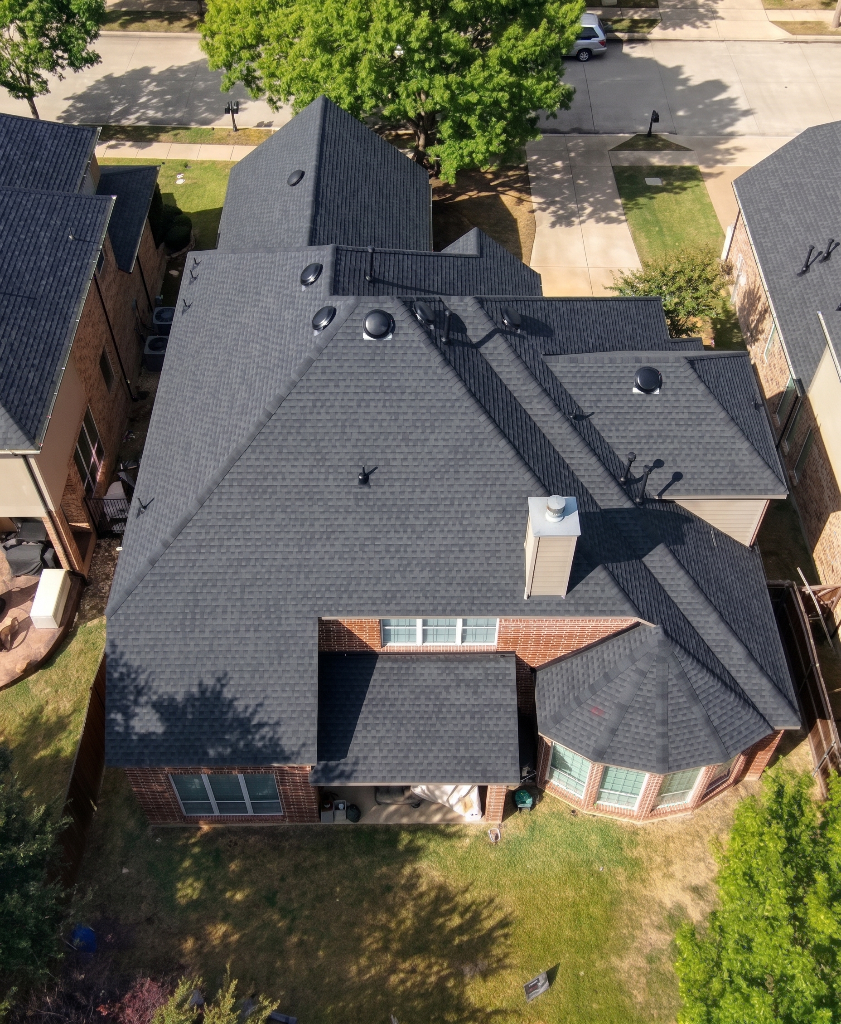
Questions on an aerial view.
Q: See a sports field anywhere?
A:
No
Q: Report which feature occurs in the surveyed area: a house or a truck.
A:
house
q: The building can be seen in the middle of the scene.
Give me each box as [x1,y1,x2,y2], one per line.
[104,94,802,829]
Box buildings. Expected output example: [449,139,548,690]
[0,107,169,597]
[104,94,802,829]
